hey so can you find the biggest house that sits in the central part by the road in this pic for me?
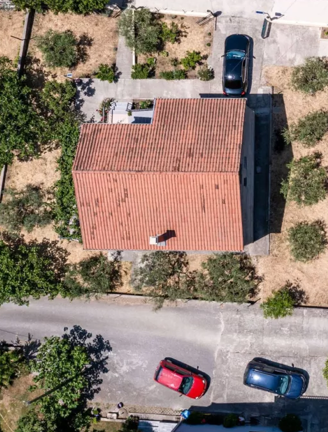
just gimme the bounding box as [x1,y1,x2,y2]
[71,96,254,254]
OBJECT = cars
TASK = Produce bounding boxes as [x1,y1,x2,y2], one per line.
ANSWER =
[244,357,308,397]
[222,34,253,97]
[153,358,209,396]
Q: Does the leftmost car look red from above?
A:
Yes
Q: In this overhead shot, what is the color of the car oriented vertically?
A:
black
